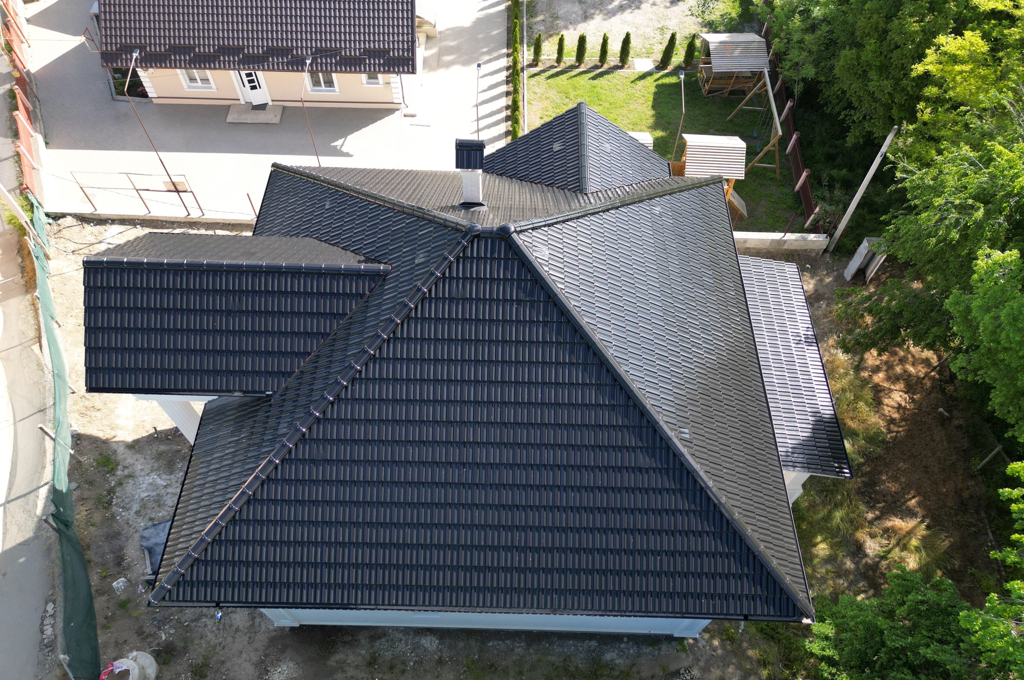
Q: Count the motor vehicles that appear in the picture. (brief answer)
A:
0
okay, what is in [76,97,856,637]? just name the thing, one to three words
house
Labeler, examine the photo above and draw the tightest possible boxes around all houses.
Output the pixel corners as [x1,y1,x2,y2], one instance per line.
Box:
[95,0,419,124]
[76,97,856,637]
